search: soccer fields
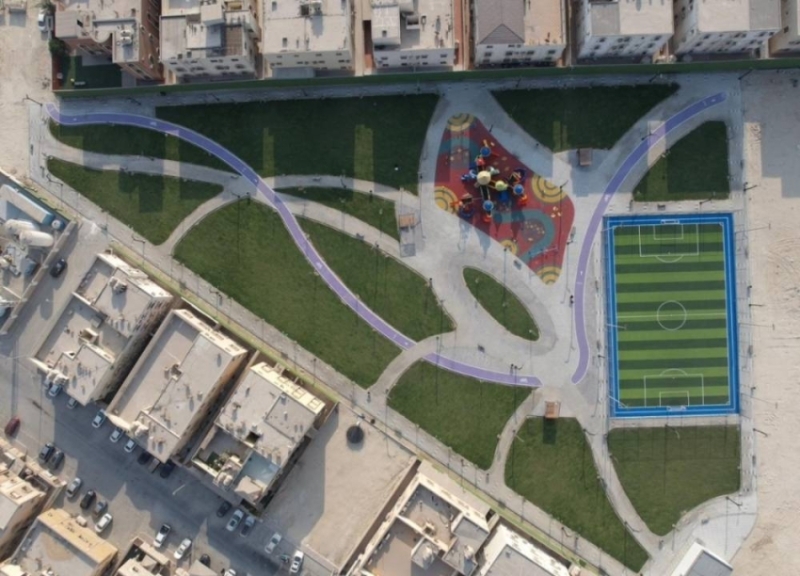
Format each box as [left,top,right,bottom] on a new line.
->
[605,213,738,417]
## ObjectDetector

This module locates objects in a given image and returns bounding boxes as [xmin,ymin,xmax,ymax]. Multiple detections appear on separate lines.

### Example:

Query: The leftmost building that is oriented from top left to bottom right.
[0,184,60,225]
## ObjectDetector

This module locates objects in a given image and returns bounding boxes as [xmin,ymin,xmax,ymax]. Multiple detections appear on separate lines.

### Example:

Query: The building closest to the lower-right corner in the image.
[670,542,733,576]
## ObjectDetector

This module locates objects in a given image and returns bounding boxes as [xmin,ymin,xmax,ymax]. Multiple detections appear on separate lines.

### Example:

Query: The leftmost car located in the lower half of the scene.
[2,417,22,438]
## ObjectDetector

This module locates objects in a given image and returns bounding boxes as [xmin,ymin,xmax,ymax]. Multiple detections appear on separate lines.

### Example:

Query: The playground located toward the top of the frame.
[434,112,575,285]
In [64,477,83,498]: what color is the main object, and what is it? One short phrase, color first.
gray car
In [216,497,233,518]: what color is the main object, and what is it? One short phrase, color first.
black car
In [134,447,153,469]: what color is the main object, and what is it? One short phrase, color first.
black car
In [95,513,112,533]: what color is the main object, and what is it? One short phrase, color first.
white car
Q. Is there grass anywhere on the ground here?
Yes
